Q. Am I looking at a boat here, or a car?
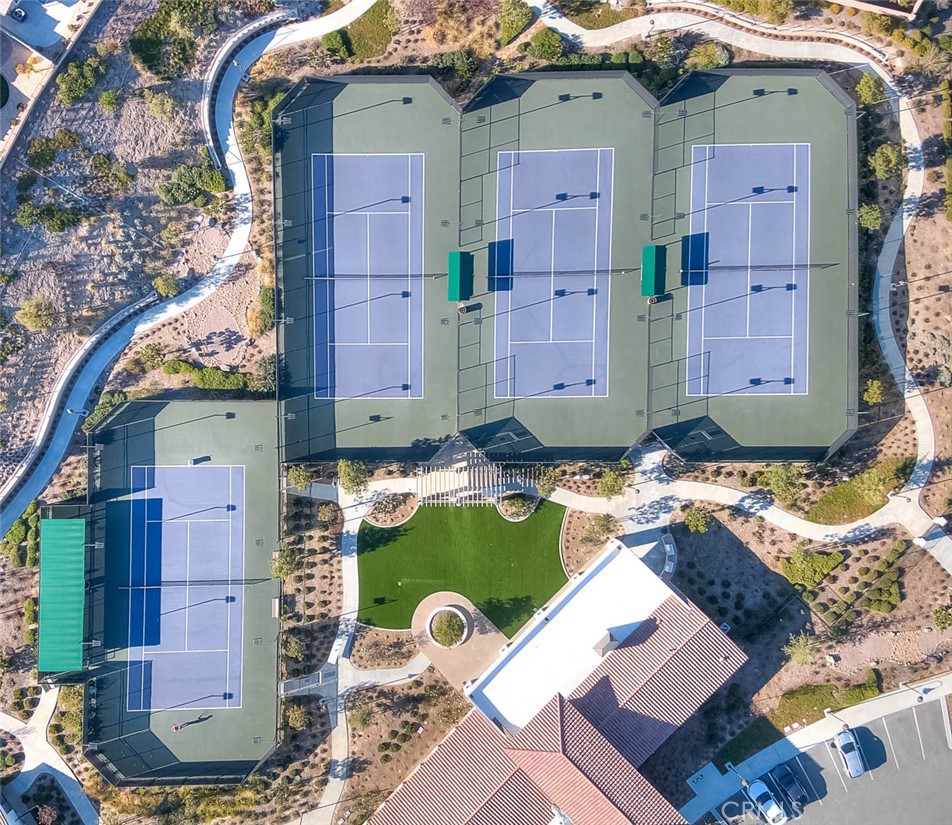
car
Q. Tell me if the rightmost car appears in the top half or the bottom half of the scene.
bottom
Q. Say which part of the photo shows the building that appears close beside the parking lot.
bottom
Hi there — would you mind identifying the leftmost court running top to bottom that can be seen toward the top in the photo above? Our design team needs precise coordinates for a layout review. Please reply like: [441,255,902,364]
[276,83,461,460]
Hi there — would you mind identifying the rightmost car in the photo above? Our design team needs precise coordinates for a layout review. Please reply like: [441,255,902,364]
[836,732,867,782]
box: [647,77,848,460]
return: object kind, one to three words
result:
tennis court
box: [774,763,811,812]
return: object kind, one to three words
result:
car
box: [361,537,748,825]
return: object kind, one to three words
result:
building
